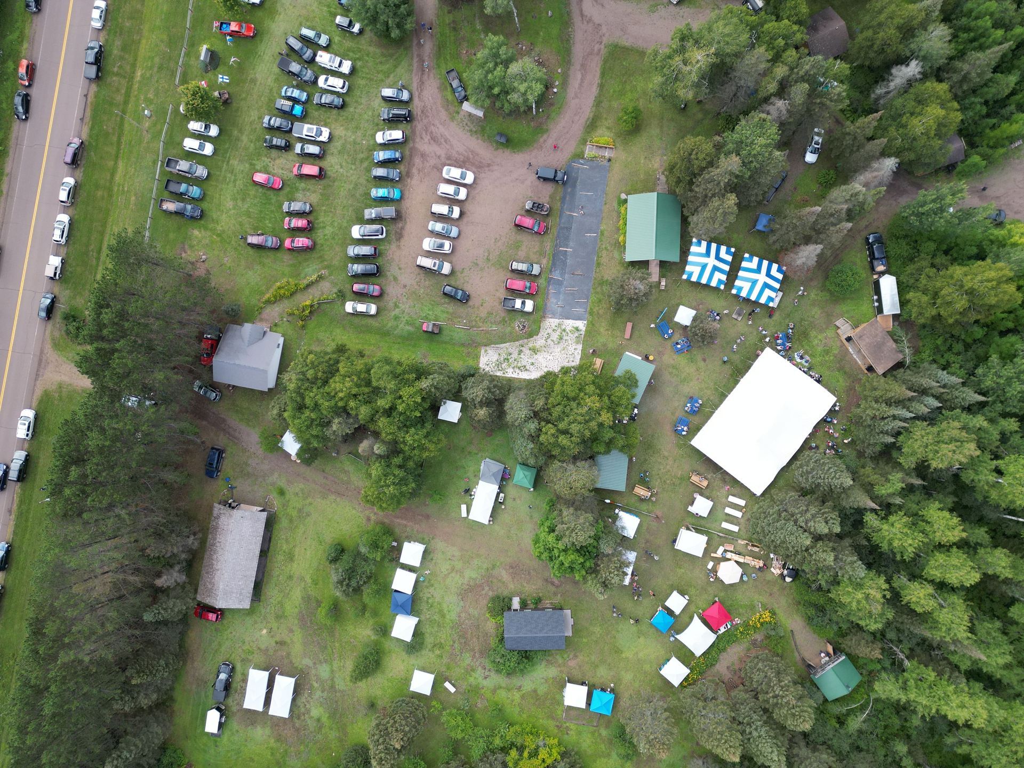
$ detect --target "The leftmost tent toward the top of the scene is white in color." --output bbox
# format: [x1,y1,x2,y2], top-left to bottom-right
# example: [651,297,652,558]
[675,237,735,297]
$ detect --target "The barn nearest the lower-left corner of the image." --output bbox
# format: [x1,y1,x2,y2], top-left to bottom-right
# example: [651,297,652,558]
[197,502,276,609]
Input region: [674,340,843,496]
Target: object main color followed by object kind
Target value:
white tent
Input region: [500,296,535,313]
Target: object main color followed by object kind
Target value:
white vehicle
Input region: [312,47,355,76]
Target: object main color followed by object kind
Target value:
white truck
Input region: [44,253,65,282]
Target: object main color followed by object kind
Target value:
white car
